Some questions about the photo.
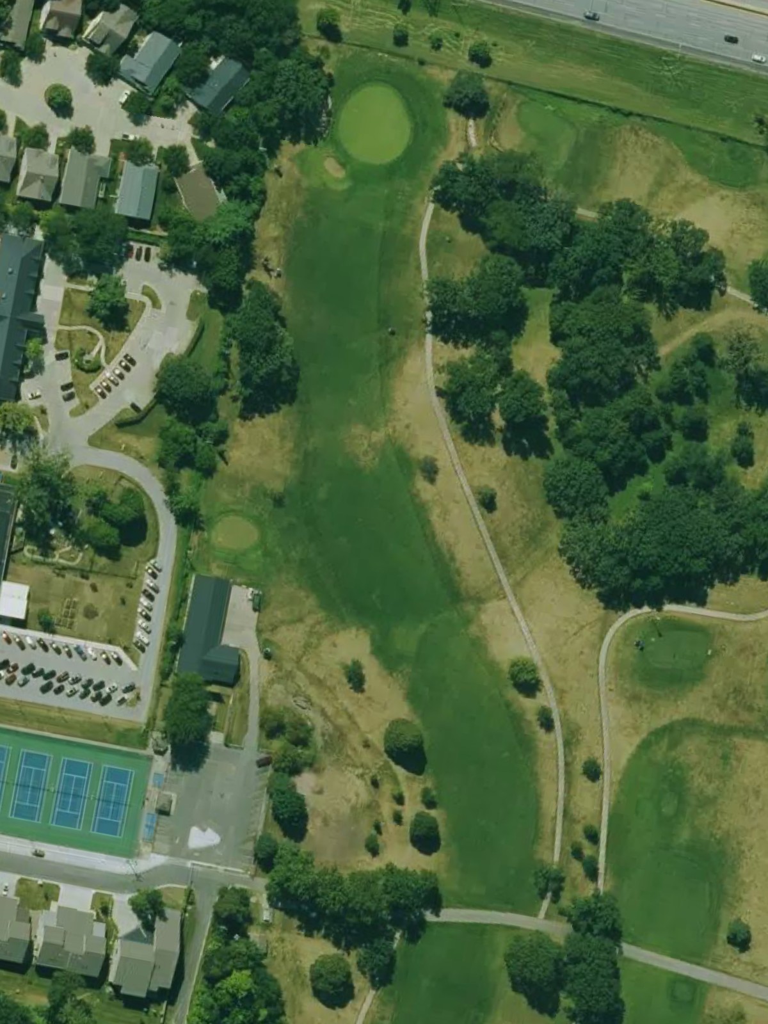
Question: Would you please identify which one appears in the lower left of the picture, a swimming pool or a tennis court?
tennis court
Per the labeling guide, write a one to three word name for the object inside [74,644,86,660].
vehicle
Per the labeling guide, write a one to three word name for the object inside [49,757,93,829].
tennis court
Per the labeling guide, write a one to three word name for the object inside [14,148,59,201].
house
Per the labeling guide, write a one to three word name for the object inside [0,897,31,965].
house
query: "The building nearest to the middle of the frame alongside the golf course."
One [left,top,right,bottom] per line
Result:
[176,574,239,687]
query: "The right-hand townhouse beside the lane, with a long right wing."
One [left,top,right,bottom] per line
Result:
[113,910,181,997]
